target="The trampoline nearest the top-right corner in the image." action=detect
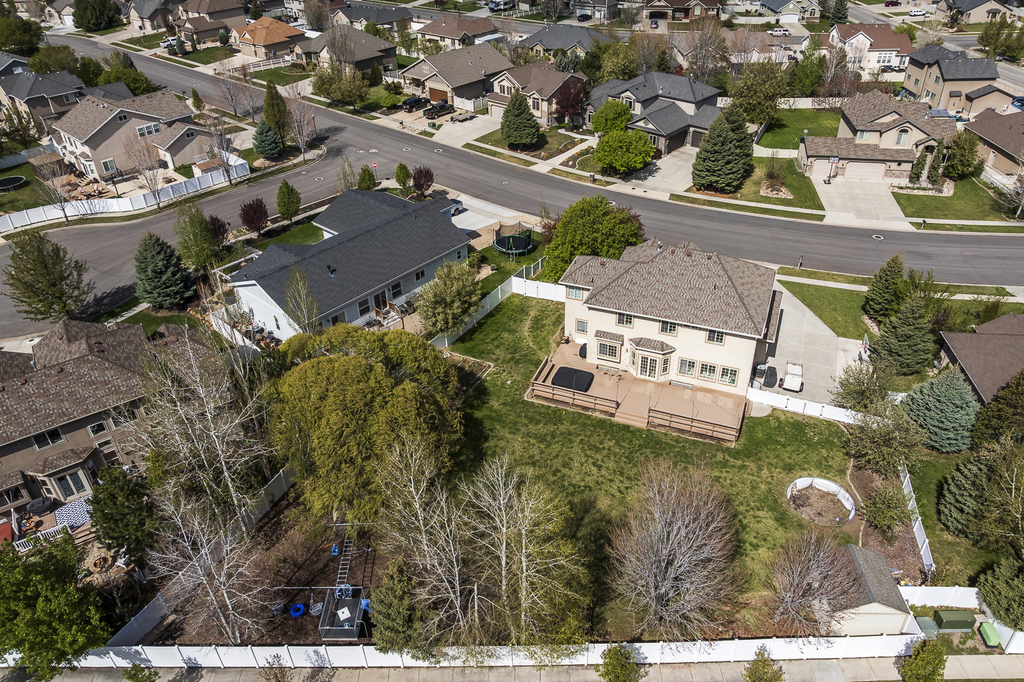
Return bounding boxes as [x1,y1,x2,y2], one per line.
[494,220,532,261]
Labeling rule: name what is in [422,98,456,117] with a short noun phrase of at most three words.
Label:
vehicle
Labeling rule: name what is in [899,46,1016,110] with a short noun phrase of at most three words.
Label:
house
